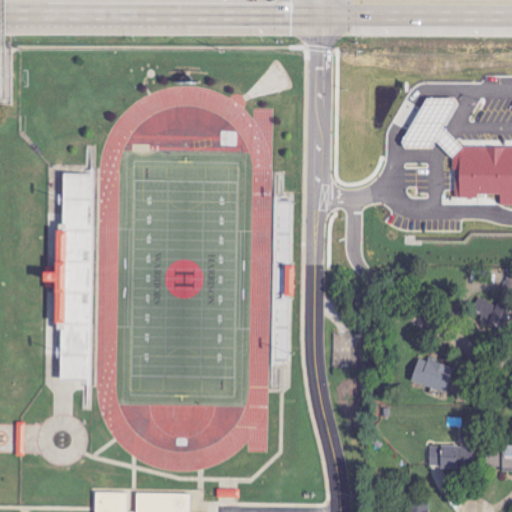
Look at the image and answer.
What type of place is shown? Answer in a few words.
sports ground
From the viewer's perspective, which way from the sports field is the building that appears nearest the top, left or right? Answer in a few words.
to the right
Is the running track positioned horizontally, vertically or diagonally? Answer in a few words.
vertically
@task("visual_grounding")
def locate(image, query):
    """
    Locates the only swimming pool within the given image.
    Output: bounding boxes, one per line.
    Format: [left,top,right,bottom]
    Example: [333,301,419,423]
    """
[446,416,462,428]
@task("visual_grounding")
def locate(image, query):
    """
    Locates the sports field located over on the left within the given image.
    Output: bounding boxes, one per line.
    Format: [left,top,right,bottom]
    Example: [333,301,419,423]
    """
[117,152,252,406]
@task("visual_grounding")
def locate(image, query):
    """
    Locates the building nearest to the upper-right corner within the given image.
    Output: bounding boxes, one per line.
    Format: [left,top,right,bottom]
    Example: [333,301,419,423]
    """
[452,146,512,206]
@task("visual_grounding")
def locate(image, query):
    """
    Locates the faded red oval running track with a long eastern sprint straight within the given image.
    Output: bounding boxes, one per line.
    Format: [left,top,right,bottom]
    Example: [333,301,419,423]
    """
[97,86,273,472]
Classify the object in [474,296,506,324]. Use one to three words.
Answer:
house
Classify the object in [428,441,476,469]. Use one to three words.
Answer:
house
